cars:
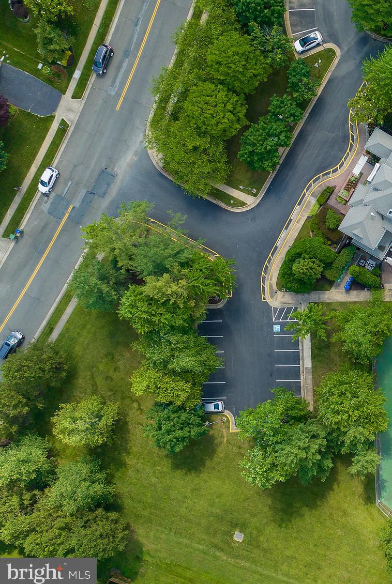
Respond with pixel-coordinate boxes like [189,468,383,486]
[91,44,114,75]
[198,400,225,412]
[39,166,59,193]
[0,332,24,360]
[295,31,324,53]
